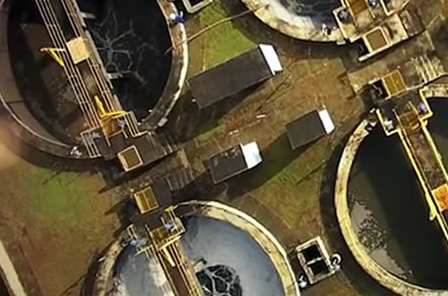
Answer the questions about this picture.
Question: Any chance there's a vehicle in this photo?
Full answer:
No, there's no vehicle here.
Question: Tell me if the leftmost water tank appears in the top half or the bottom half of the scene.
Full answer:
You can find the leftmost water tank in the top half.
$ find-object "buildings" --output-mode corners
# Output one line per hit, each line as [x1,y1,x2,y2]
[209,142,259,185]
[188,47,282,108]
[285,109,331,150]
